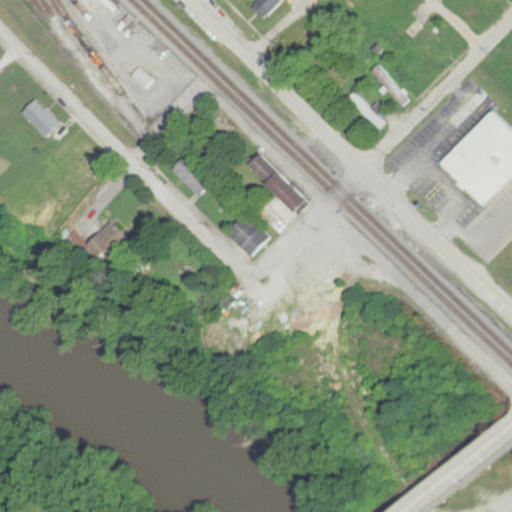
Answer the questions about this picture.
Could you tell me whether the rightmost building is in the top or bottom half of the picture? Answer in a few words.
top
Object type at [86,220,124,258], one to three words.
house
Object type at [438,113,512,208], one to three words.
building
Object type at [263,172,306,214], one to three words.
building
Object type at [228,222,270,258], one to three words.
house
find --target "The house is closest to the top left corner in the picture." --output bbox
[23,100,60,138]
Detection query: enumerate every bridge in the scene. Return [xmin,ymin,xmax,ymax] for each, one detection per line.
[380,406,512,512]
